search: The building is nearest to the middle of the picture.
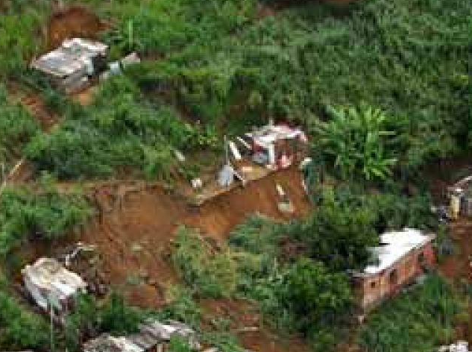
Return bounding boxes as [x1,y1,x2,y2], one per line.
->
[253,124,308,166]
